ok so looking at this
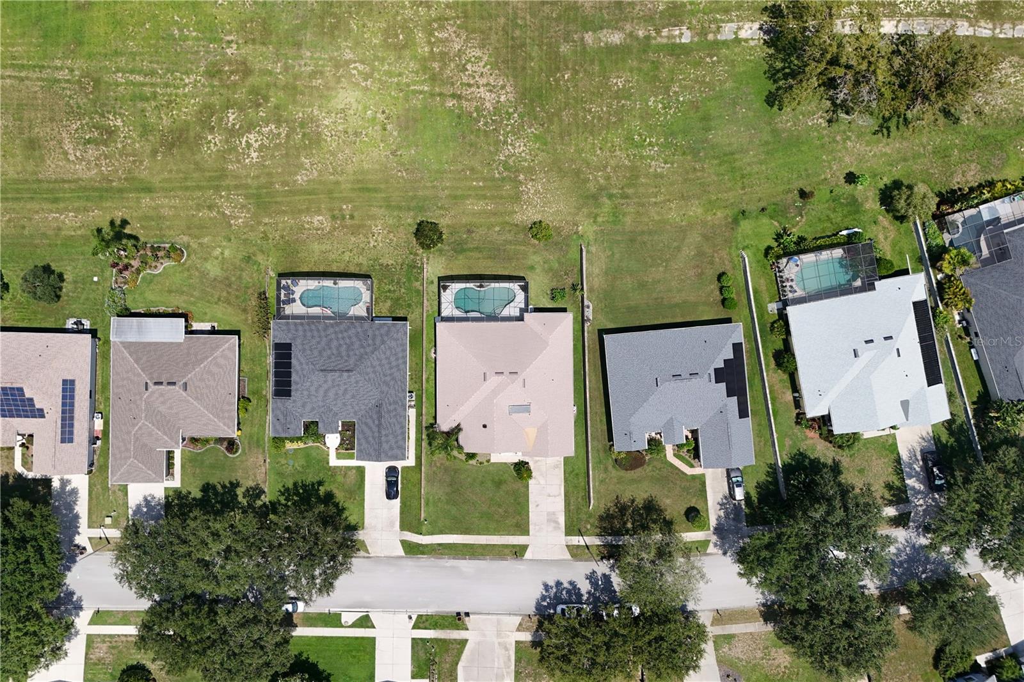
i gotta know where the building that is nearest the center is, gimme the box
[435,313,574,459]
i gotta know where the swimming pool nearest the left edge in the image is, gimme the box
[297,283,365,320]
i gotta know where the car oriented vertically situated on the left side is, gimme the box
[383,467,398,501]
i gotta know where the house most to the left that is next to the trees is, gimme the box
[0,331,99,477]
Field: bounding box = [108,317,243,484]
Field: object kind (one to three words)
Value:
house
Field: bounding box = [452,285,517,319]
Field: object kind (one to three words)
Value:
swimming pool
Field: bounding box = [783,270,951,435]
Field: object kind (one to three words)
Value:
house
